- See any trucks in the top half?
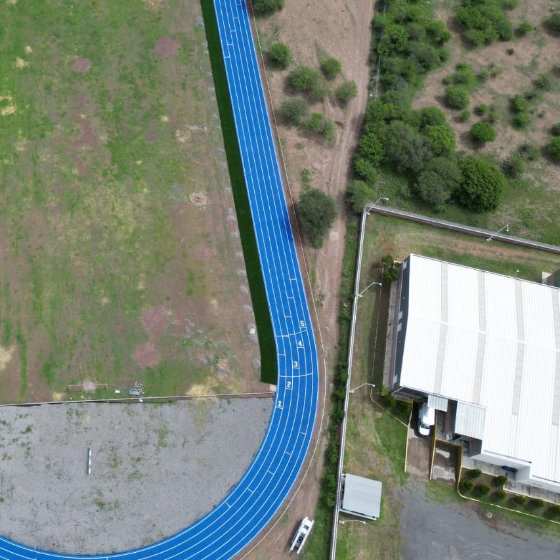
No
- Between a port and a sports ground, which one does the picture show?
sports ground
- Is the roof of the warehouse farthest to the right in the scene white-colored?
Yes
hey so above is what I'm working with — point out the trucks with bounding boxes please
[419,398,442,435]
[293,516,320,554]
